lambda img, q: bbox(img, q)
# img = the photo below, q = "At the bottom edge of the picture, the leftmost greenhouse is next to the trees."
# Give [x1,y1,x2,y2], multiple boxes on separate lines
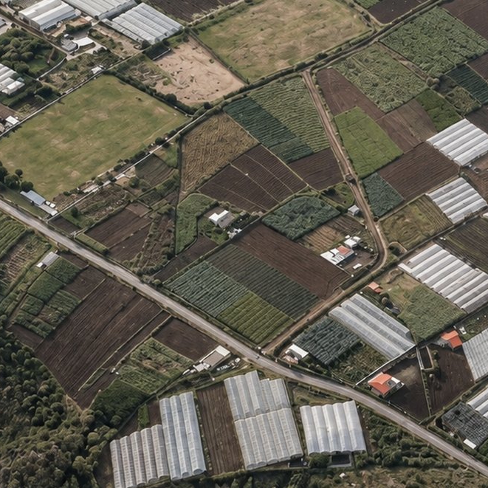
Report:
[111,427,168,488]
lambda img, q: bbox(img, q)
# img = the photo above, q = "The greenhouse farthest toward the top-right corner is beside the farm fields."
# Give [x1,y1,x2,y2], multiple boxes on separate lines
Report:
[428,119,488,168]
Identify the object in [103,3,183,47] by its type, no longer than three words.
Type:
greenhouse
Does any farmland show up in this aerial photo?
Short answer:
Yes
